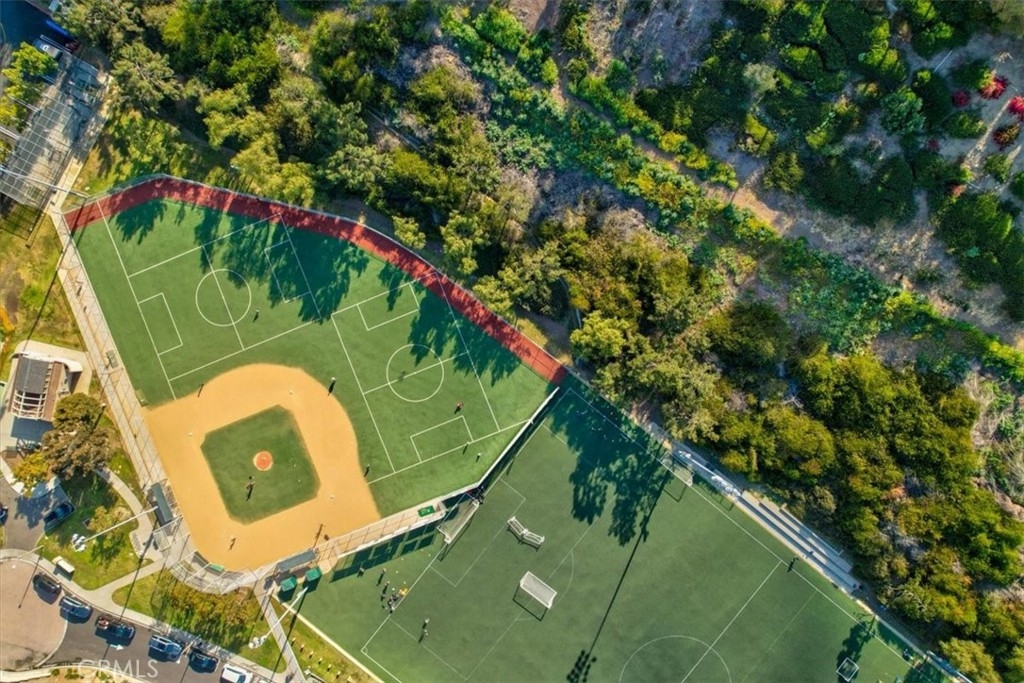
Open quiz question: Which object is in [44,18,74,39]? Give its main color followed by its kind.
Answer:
blue car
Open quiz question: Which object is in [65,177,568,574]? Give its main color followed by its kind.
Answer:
green baseball field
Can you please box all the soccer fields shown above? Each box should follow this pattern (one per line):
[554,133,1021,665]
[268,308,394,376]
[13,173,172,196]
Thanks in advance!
[129,214,321,381]
[275,374,954,683]
[331,272,499,472]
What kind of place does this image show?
sports ground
